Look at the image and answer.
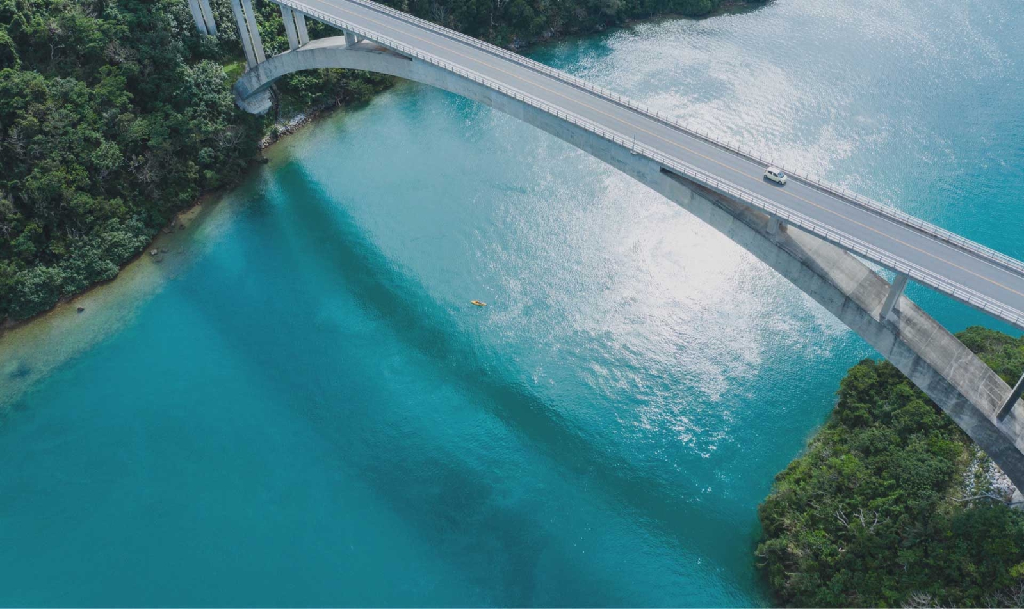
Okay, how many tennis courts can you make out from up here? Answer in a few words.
0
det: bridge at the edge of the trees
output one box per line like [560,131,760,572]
[154,0,1024,497]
